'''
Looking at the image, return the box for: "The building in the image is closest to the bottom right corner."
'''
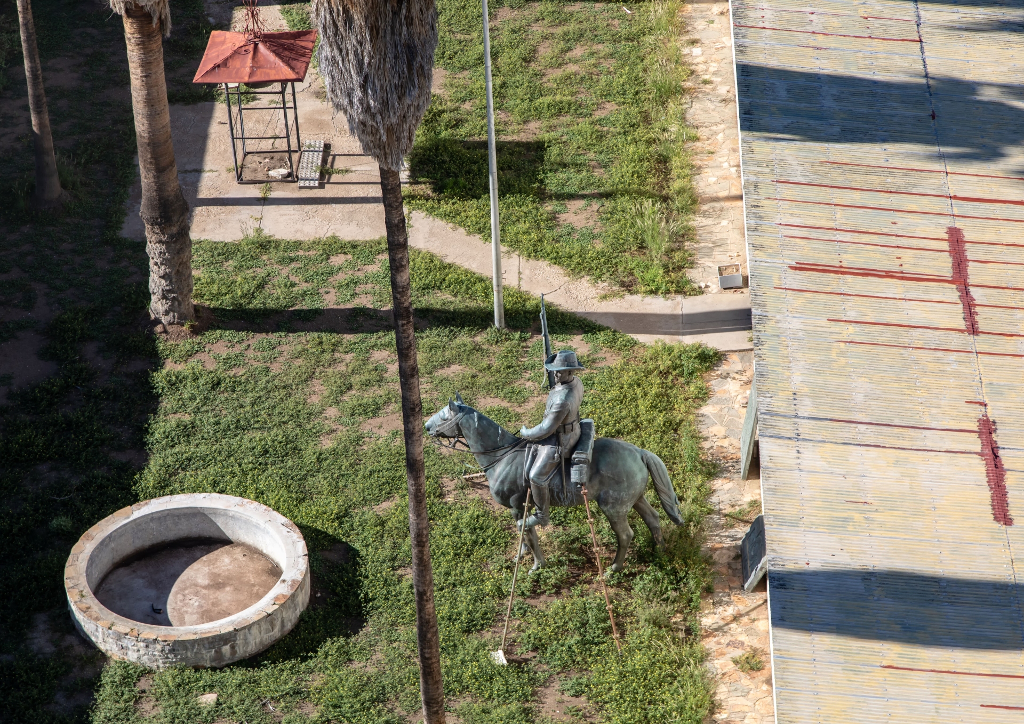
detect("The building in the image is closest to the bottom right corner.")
[726,0,1024,724]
